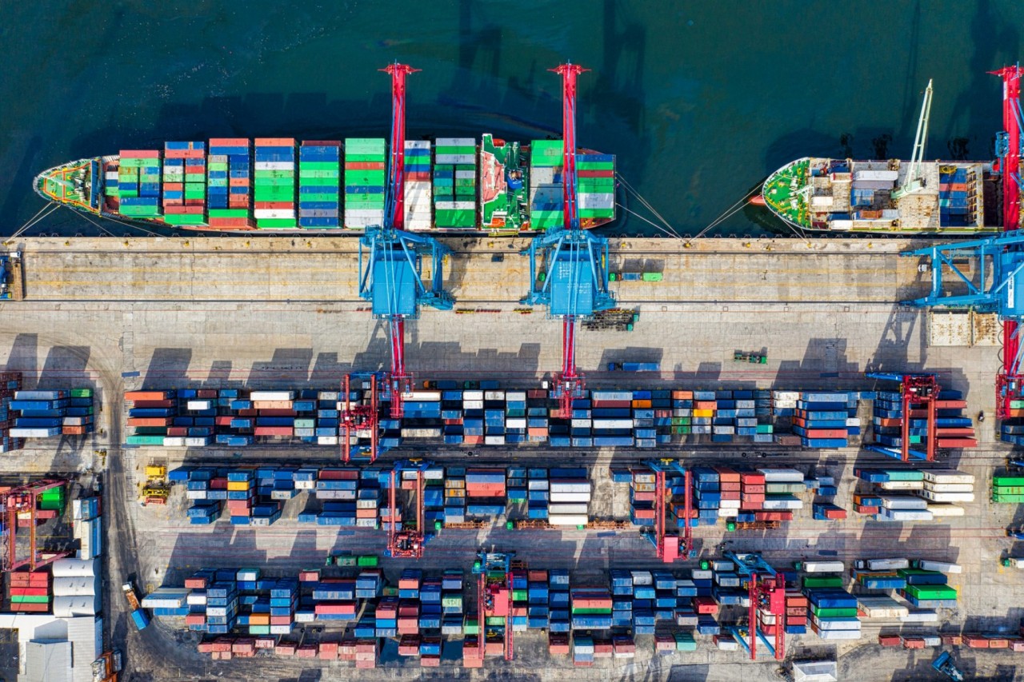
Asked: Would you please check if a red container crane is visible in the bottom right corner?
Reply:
Yes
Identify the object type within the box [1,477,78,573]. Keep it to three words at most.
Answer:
container crane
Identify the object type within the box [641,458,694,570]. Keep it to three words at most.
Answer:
container crane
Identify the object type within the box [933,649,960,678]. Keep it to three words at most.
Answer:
truck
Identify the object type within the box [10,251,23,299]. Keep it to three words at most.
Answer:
vehicle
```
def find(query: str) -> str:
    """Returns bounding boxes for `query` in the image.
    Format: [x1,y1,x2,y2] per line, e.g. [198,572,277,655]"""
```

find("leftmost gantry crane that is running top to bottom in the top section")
[355,55,459,415]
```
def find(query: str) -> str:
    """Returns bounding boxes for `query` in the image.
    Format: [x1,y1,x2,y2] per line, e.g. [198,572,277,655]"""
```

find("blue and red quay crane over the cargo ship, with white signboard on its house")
[900,55,1024,417]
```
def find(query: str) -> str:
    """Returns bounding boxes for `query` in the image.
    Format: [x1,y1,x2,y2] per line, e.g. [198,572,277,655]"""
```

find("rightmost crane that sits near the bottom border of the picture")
[726,556,786,659]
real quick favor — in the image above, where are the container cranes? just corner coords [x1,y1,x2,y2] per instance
[513,55,615,415]
[726,556,786,659]
[641,458,694,570]
[387,460,435,561]
[355,55,459,415]
[1,477,78,573]
[340,369,393,463]
[900,55,1024,417]
[474,553,516,660]
[867,371,941,463]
